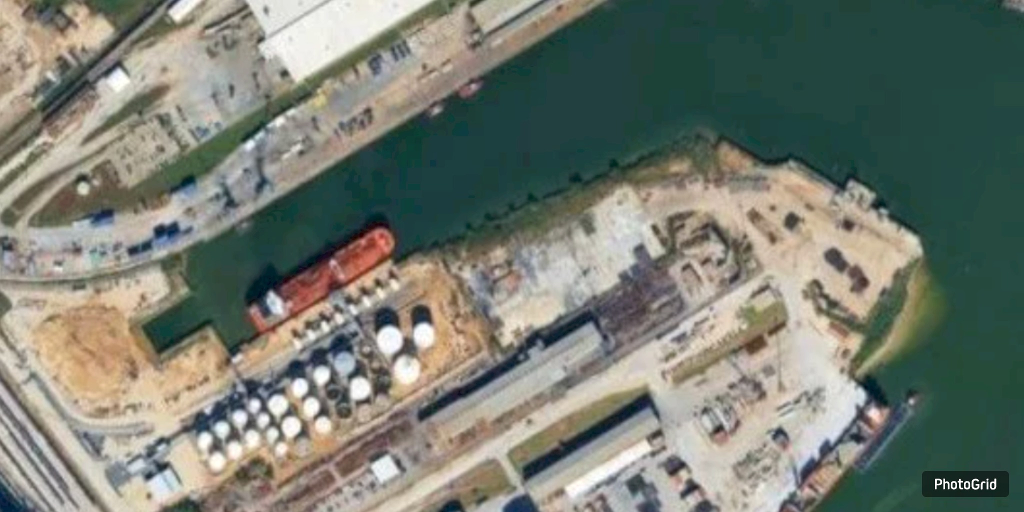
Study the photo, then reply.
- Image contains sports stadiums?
No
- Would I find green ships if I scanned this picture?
No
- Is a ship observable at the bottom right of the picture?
Yes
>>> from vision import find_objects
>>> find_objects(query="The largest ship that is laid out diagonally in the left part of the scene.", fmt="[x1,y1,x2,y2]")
[248,228,396,334]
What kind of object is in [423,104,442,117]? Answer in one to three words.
boat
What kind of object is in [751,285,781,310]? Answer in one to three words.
shed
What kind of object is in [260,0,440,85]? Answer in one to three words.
building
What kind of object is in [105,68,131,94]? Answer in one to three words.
building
